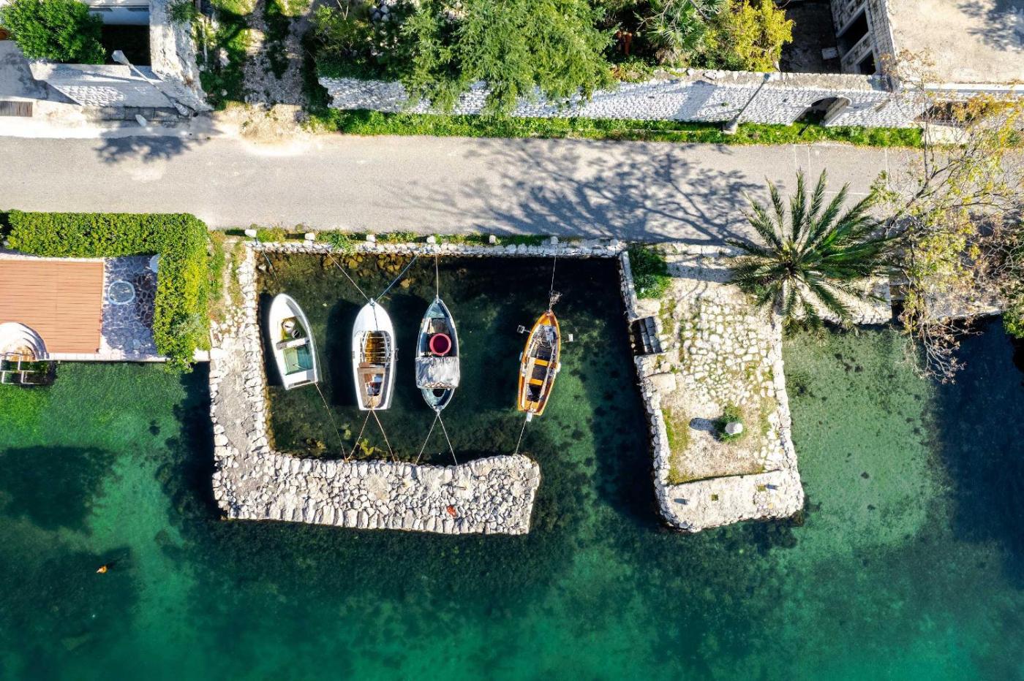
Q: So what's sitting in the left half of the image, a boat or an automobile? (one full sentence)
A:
You can see a boat in the left half of the image.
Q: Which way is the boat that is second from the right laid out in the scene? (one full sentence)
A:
Seen from above, the boat that is second from the right lies up and down.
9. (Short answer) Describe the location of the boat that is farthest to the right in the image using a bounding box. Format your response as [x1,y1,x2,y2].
[515,311,573,422]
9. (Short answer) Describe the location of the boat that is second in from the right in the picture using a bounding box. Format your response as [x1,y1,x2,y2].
[416,298,460,410]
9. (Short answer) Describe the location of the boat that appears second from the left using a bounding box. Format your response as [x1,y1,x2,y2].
[352,300,399,410]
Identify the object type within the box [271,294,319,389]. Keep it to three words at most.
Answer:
boat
